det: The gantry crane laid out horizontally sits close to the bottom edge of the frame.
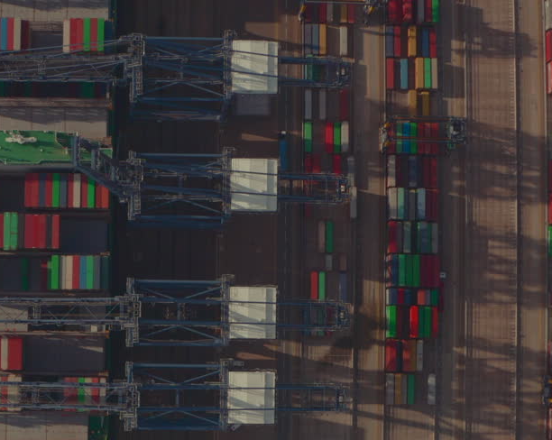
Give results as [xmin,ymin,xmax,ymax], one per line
[0,352,350,433]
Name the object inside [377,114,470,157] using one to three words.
container crane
